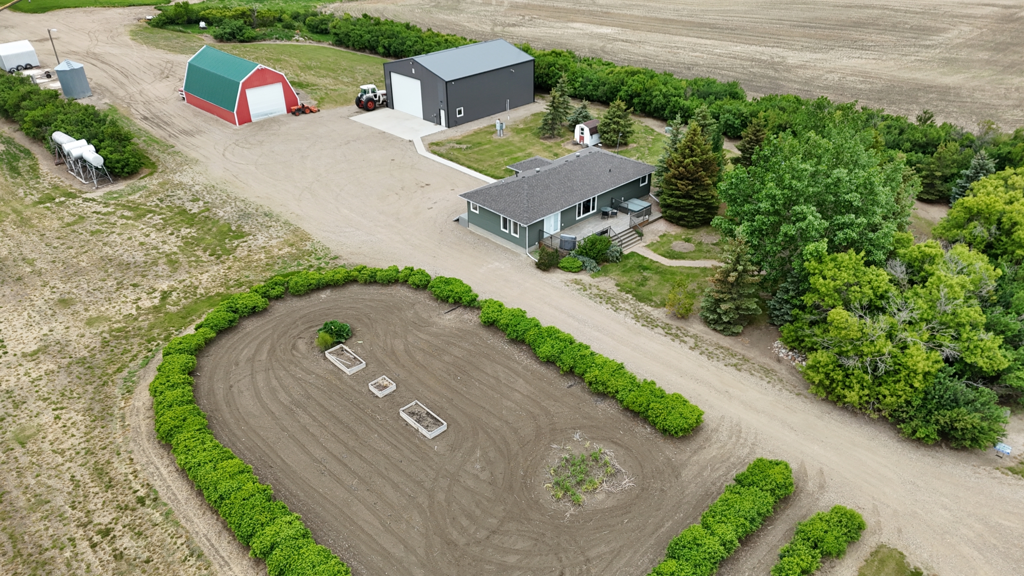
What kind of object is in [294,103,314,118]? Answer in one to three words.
work vehicle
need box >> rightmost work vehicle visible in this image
[355,82,387,111]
